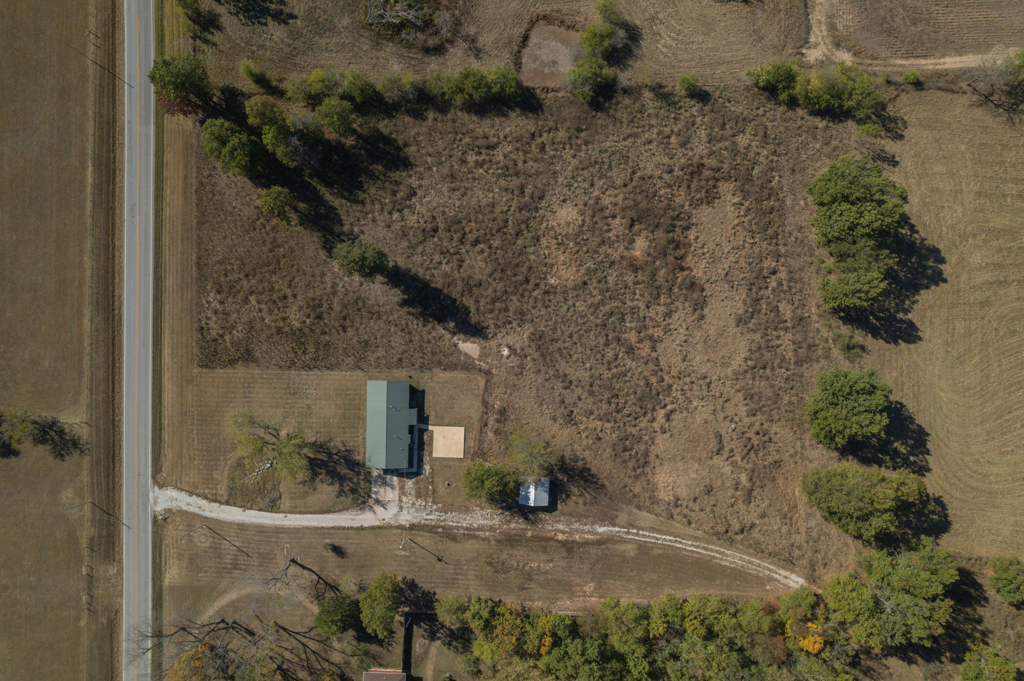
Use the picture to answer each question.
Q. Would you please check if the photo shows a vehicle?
No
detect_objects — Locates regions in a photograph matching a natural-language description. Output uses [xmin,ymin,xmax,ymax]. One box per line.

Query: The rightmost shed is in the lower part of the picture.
[520,476,549,508]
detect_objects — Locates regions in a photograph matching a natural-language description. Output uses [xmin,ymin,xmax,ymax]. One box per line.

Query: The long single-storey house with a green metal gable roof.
[366,380,419,470]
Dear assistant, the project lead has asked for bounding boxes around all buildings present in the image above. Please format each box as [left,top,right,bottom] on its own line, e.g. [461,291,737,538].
[363,666,407,681]
[366,380,419,470]
[520,476,549,508]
